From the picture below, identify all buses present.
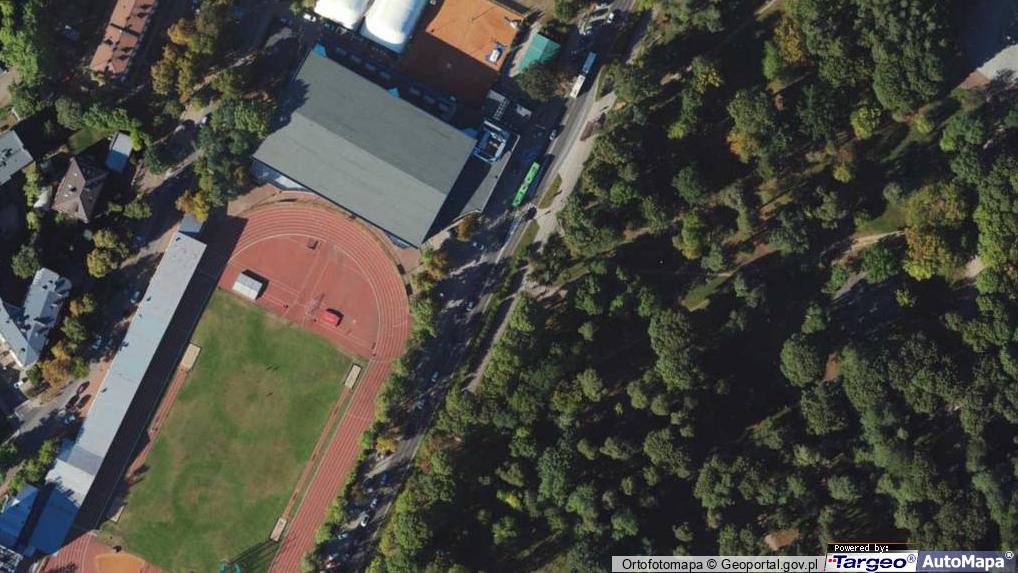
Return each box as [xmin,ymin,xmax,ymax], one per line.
[571,52,596,98]
[512,161,540,207]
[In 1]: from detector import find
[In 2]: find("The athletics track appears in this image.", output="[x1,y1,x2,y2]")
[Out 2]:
[61,208,408,573]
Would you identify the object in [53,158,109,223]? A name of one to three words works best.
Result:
house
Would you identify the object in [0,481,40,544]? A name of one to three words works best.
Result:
building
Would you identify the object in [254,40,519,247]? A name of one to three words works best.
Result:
building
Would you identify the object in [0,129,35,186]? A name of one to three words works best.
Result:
house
